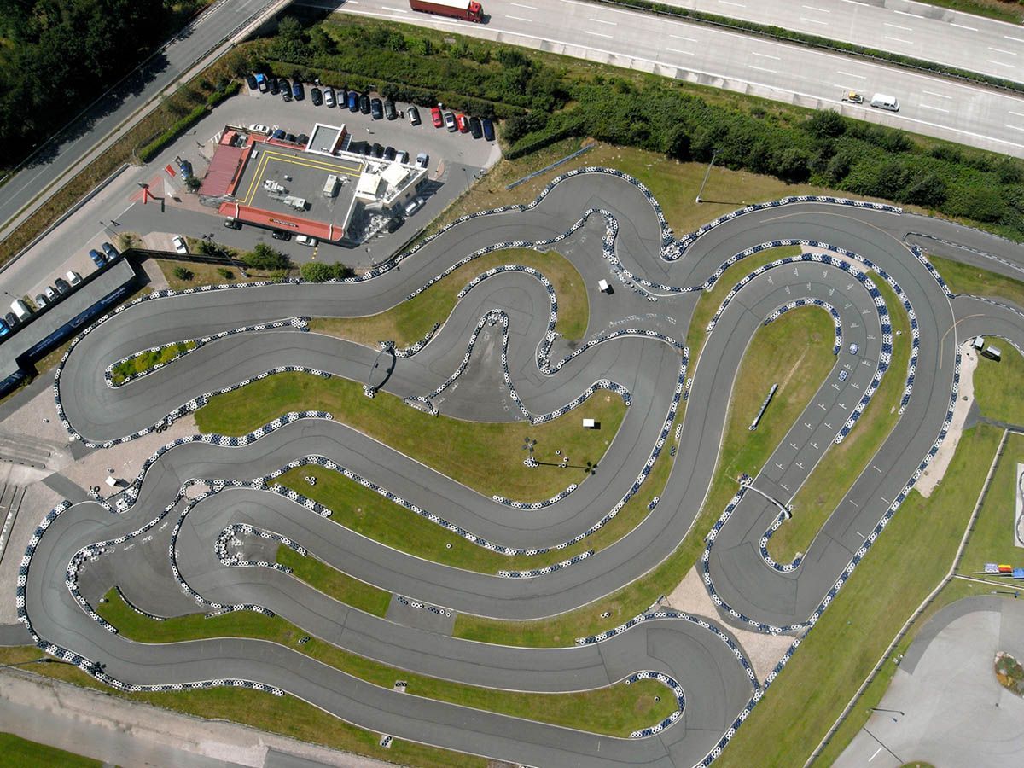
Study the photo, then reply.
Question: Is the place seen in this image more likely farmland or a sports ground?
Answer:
sports ground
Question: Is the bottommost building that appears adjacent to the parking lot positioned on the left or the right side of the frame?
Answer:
left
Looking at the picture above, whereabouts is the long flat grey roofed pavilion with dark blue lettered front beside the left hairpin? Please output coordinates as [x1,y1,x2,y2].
[0,257,141,393]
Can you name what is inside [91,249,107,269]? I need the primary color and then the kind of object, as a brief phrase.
blue car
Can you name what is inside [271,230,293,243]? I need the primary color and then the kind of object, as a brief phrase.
black vehicle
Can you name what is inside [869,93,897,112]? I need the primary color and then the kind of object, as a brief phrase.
white vehicle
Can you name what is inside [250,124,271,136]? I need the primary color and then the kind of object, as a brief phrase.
white vehicle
